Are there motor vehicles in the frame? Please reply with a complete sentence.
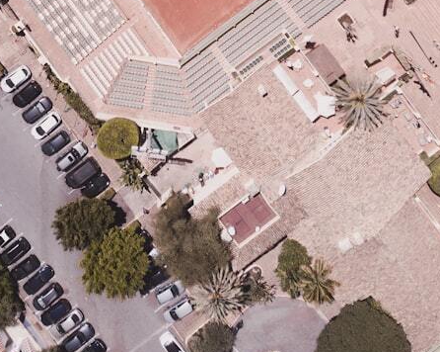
Yes, there's a motor vehicle down there.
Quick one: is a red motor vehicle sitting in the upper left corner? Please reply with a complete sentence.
No, no red motor vehicle appears in the upper left corner.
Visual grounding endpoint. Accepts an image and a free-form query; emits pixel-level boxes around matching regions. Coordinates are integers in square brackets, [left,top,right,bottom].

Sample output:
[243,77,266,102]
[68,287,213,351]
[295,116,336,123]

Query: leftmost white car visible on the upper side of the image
[0,65,32,92]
